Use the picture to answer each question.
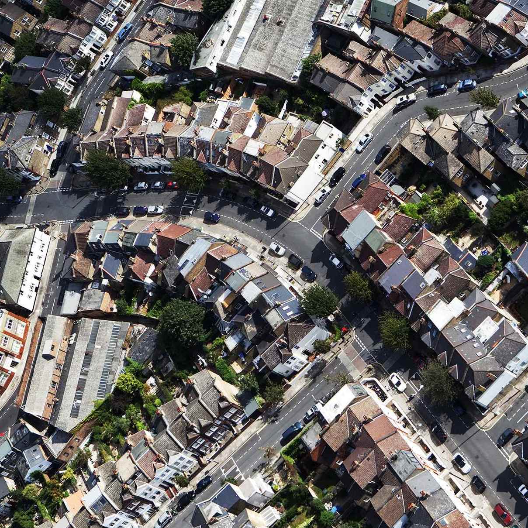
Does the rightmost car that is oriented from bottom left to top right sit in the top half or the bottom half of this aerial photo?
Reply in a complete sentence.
The rightmost car that is oriented from bottom left to top right is in the bottom half of the image.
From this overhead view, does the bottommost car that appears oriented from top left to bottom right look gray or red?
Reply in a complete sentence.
From above, the bottommost car that appears oriented from top left to bottom right appears red.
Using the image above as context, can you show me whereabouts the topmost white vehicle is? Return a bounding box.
[99,49,114,67]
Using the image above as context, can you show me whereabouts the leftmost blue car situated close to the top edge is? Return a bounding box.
[116,22,134,41]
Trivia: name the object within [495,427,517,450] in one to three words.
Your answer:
car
